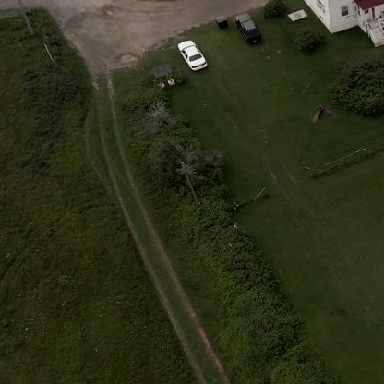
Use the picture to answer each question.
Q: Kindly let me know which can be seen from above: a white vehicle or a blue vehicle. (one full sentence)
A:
The one in the frame is a white vehicle.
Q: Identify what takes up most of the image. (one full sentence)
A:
The scene is dominated by grass.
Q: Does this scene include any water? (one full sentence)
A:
No, there is no water in the image.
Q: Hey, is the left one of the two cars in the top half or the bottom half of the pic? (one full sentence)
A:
Seen from above, the left one of the two cars lies in the top half of the view.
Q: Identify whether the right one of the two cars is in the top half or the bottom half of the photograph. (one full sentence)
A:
It is in the top half that the right one of the two cars appears.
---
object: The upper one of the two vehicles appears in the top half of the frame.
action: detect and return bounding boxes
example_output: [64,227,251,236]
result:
[233,16,261,40]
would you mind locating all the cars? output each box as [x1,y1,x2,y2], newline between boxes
[178,40,208,68]
[233,16,261,40]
